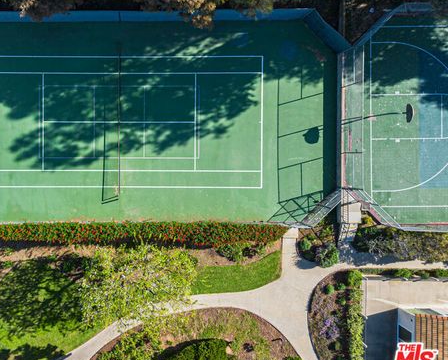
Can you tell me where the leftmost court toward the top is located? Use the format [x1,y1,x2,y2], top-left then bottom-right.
[0,21,337,223]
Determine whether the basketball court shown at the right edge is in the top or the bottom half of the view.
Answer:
top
